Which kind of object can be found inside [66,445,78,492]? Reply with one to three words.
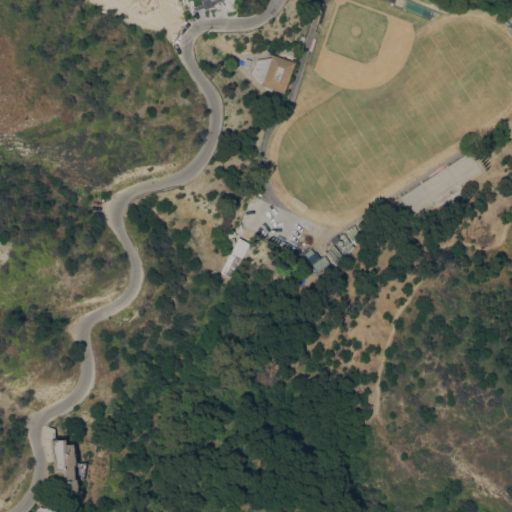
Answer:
house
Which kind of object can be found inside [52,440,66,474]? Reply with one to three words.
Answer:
house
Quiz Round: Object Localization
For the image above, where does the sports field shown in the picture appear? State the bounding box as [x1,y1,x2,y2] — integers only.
[270,0,512,226]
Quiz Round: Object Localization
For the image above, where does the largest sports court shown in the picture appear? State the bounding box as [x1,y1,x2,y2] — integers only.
[401,156,483,212]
